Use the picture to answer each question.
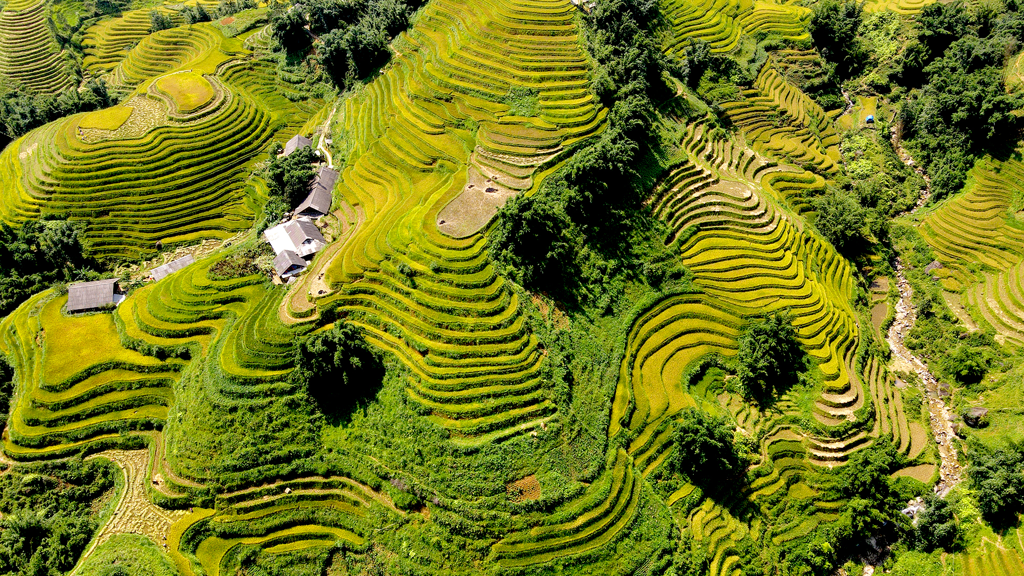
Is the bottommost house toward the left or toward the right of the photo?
left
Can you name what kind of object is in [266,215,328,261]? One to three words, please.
house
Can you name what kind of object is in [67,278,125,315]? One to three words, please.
house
